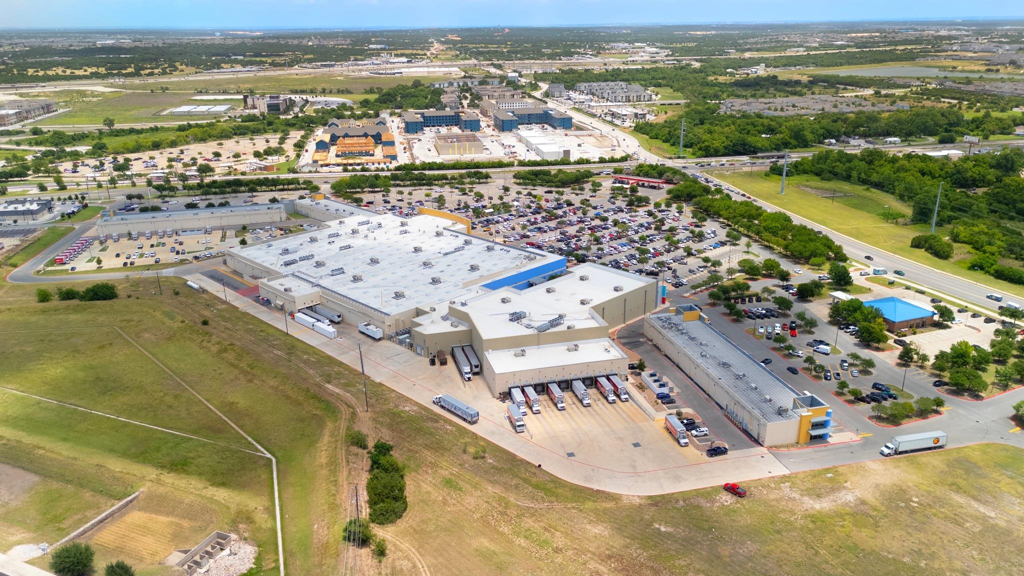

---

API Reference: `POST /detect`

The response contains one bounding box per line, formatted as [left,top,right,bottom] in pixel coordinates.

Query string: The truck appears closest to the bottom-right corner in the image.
[881,432,954,457]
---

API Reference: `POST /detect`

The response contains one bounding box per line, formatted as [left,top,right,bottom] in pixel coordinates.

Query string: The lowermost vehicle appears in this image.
[723,483,747,496]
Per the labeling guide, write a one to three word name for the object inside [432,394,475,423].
truck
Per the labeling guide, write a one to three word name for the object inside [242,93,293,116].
building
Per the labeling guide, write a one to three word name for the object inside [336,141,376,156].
house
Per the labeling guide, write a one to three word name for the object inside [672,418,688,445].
vehicle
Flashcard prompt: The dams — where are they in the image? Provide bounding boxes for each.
[166,530,227,576]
